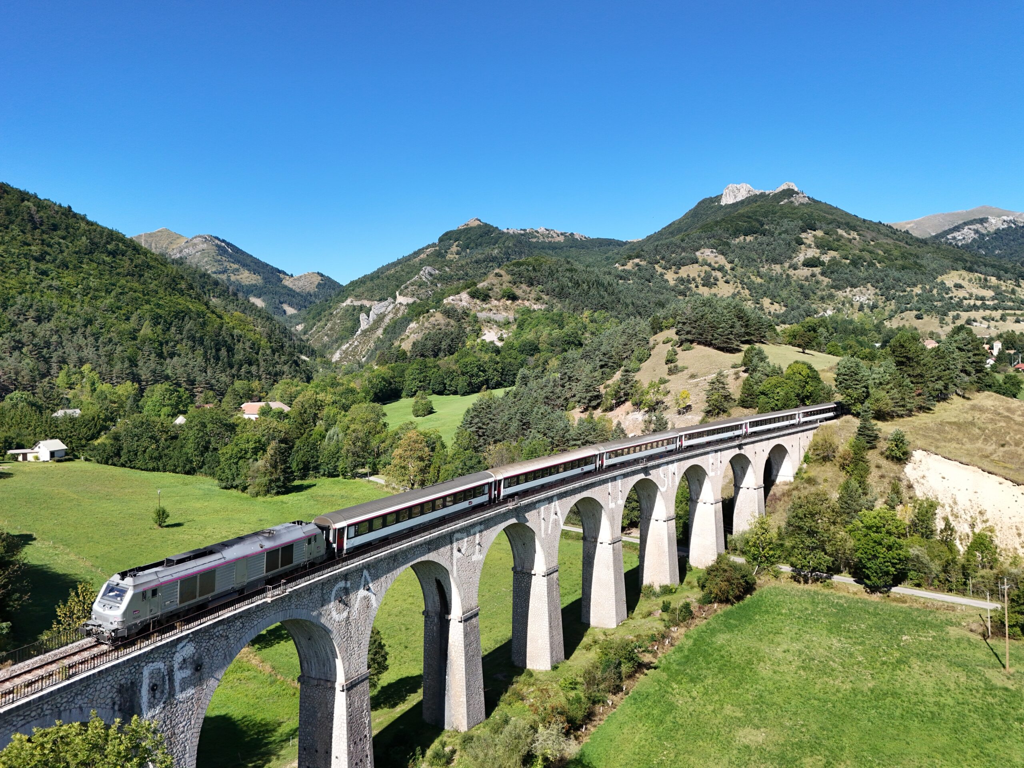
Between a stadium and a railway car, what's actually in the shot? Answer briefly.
railway car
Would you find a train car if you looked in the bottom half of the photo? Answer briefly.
Yes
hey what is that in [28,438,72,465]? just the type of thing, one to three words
house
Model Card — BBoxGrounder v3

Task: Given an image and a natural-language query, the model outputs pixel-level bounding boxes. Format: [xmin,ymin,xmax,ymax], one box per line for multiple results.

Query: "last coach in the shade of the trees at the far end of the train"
[789,403,841,427]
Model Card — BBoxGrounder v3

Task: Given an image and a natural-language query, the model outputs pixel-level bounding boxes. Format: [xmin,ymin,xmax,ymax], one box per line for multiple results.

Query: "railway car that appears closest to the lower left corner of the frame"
[79,517,330,644]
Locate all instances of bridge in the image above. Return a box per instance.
[0,421,813,768]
